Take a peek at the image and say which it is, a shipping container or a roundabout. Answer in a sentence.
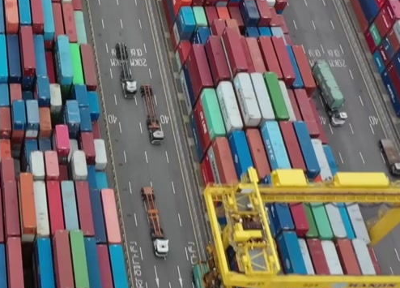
There is a shipping container in the scene.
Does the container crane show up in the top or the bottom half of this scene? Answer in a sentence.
You can find the container crane in the bottom half.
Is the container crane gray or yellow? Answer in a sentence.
The color of the container crane is yellow.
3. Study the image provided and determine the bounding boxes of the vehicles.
[145,189,173,257]
[381,134,400,174]
[323,92,348,125]
[116,44,139,97]
[142,86,166,144]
